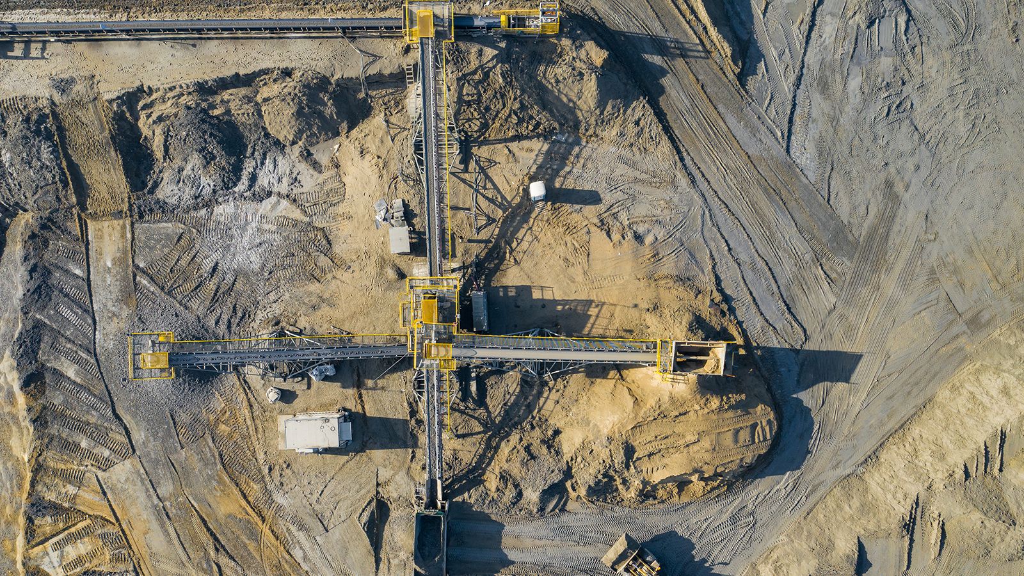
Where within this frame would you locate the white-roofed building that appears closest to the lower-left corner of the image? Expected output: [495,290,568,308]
[285,412,356,453]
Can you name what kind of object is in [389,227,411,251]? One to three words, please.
building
